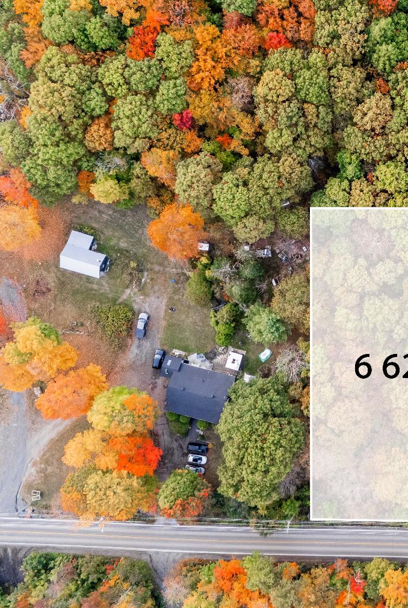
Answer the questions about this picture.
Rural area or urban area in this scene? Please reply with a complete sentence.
The land in this view is best described as rural.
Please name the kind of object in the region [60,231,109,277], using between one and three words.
shed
